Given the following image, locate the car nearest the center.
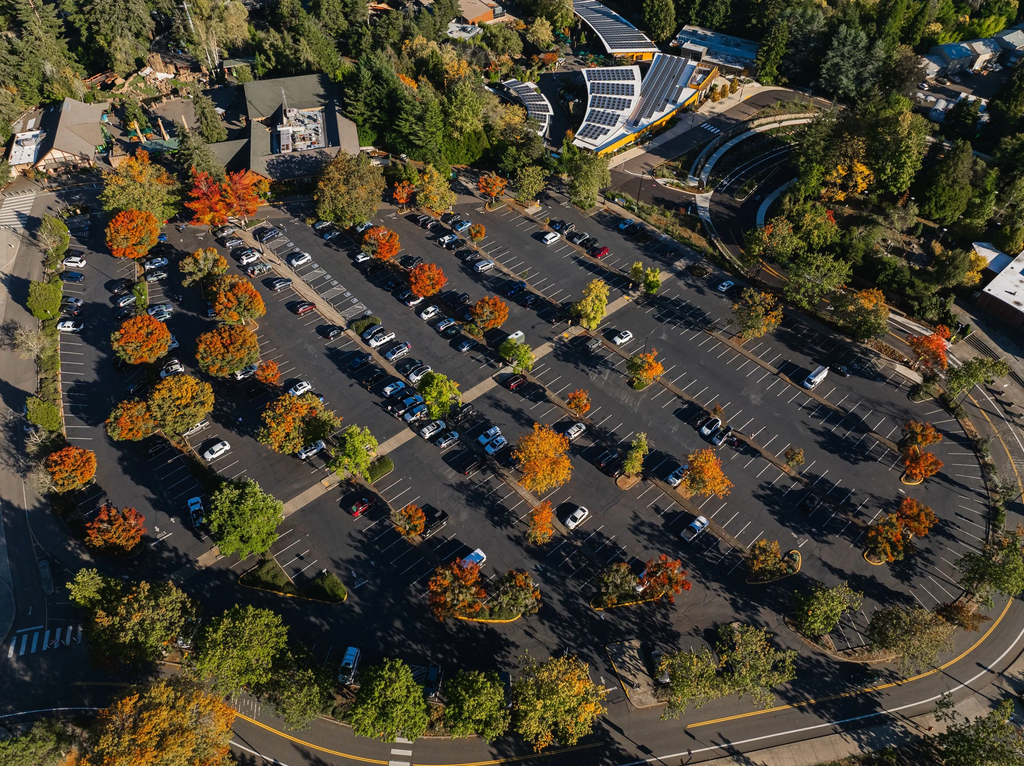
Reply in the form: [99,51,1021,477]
[505,373,528,390]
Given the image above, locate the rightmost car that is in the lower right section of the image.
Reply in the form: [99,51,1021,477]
[849,670,883,689]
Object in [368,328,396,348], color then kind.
white vehicle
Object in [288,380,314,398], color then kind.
white car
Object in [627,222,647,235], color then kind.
black vehicle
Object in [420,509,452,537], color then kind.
black truck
